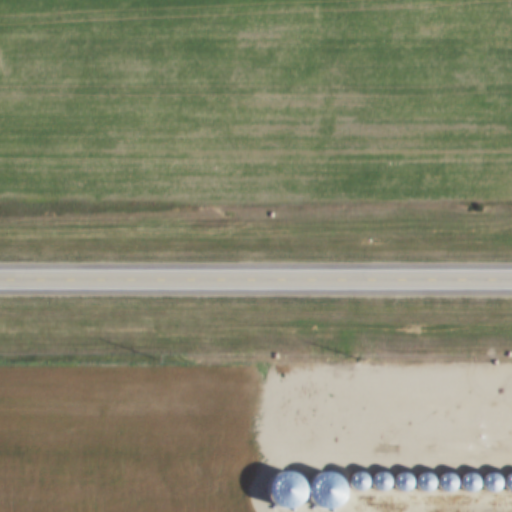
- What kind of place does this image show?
farmland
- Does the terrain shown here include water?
No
